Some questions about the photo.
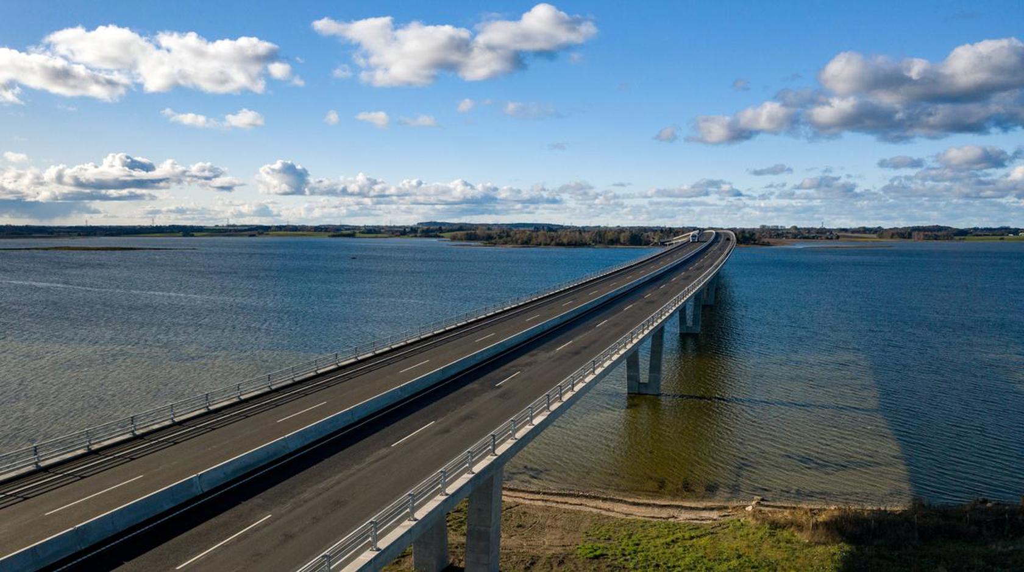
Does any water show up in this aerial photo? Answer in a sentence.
Yes, there's water in this view.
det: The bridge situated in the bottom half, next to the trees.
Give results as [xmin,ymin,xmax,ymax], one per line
[0,231,737,572]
